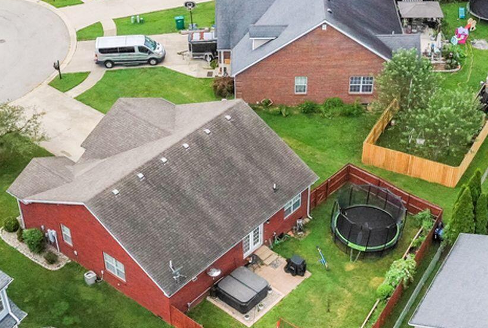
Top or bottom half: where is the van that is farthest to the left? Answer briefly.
top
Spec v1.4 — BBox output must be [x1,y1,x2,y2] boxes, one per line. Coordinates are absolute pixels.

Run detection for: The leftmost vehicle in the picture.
[93,38,165,72]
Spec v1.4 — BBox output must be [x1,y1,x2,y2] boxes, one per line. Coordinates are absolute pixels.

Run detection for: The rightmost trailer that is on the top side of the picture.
[174,37,222,62]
